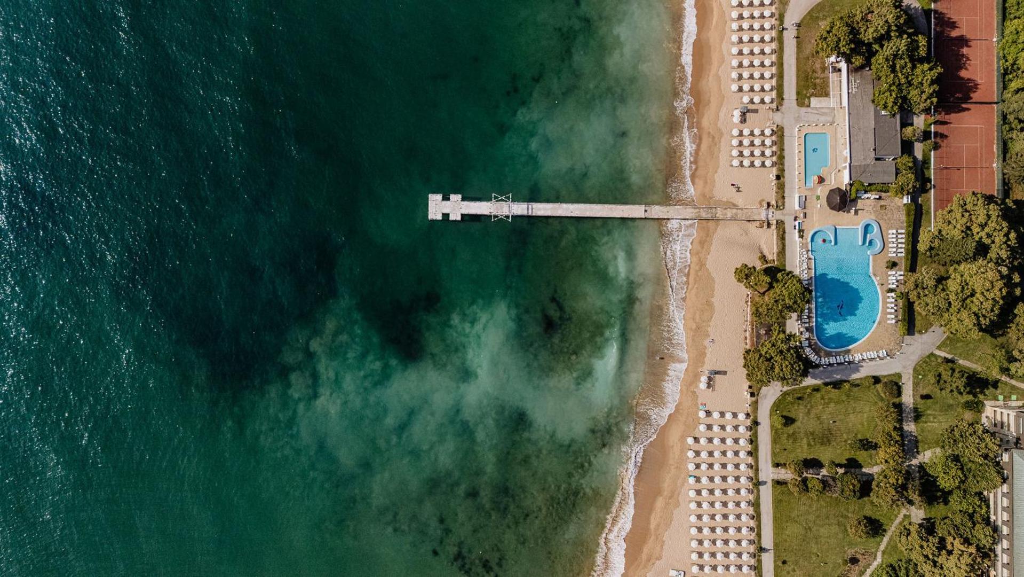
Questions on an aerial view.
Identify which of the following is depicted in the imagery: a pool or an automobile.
pool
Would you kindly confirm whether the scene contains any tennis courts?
Yes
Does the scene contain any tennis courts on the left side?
No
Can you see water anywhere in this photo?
Yes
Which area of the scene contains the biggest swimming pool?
right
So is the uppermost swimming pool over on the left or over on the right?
right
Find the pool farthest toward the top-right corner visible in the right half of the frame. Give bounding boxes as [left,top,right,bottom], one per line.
[804,132,831,188]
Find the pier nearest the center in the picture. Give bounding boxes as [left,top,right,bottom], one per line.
[428,193,767,223]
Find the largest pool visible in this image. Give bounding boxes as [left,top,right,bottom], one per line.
[810,225,882,350]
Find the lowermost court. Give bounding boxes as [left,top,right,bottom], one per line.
[934,103,996,235]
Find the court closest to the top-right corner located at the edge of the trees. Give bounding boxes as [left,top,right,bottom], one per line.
[934,0,996,102]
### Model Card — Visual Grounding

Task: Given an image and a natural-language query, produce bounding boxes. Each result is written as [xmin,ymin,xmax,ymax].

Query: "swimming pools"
[804,132,831,188]
[810,225,882,350]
